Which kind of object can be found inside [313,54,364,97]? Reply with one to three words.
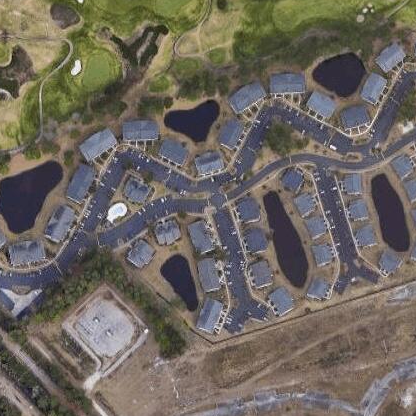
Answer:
pond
